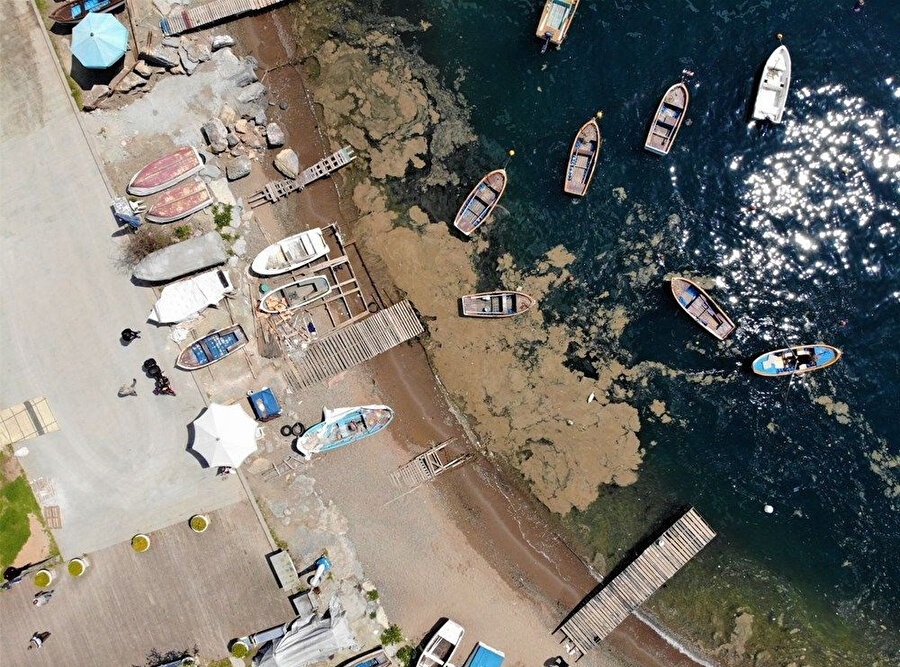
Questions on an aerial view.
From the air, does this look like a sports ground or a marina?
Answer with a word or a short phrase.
marina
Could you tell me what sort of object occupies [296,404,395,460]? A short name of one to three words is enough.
boat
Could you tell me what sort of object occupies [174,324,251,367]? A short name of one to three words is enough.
boat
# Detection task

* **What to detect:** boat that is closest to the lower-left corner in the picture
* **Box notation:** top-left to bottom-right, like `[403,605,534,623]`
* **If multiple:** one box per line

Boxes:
[255,591,358,667]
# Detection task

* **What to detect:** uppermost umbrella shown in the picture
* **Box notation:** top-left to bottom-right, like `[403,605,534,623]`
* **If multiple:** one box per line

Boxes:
[72,13,130,69]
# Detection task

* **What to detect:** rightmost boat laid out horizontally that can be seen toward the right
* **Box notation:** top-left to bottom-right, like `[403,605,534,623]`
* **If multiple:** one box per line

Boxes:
[748,342,846,375]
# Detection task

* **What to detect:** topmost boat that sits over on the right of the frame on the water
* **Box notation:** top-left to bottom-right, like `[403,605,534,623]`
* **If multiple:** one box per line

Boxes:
[532,0,580,47]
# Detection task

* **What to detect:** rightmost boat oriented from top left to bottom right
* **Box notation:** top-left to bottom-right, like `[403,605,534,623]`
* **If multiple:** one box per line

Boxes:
[669,277,732,341]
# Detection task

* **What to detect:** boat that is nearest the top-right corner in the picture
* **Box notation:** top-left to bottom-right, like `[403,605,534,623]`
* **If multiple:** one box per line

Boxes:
[751,41,793,128]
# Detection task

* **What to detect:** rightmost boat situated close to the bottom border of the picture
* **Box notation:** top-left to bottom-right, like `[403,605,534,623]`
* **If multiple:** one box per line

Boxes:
[465,638,505,667]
